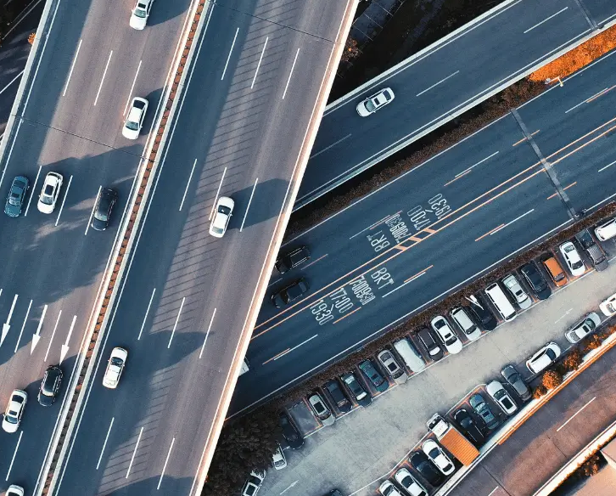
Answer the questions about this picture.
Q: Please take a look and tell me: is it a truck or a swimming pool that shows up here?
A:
truck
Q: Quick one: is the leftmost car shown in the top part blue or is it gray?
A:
blue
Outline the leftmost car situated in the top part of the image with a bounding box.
[5,175,30,217]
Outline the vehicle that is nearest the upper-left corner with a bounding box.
[130,0,153,30]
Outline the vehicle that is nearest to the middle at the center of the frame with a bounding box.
[274,244,312,273]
